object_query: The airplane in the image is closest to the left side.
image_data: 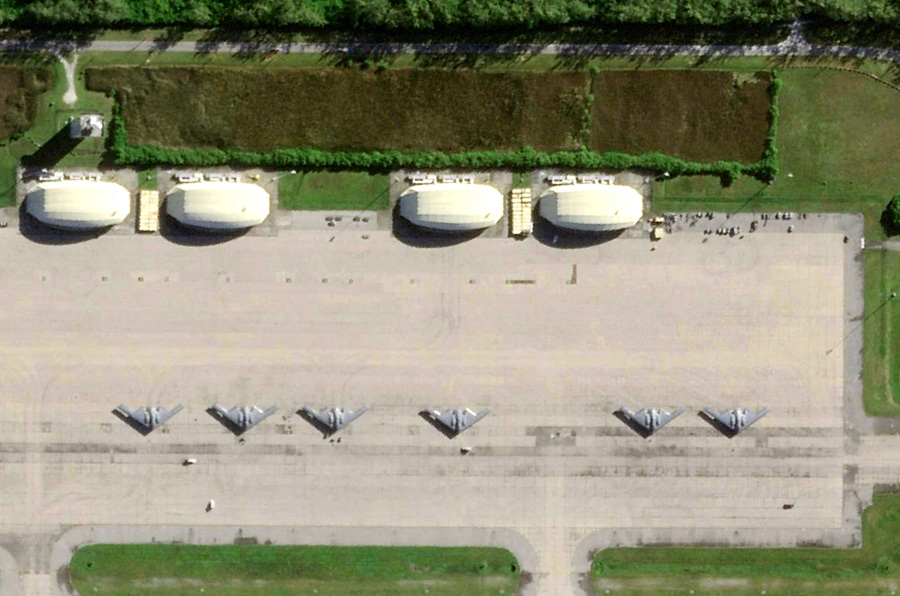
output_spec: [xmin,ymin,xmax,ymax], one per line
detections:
[118,403,185,430]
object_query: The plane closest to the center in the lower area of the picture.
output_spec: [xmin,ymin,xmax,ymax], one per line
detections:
[425,403,493,431]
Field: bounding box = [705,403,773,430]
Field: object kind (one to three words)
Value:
airplane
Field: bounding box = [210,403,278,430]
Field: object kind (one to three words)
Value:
airplane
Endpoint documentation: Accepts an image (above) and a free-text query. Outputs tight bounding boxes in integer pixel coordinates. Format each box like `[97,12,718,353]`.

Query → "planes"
[301,403,370,431]
[210,403,278,430]
[425,403,493,431]
[118,403,185,430]
[705,403,773,430]
[620,404,687,431]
